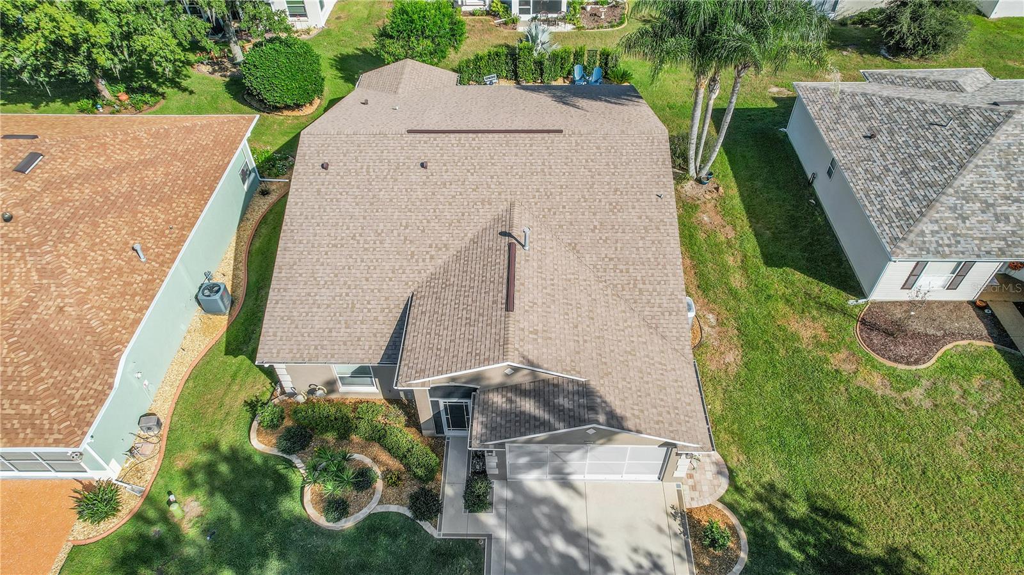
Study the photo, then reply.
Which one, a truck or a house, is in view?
house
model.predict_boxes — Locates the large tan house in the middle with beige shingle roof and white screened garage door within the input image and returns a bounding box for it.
[251,57,717,484]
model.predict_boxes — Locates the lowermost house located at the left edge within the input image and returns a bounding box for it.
[0,113,292,488]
